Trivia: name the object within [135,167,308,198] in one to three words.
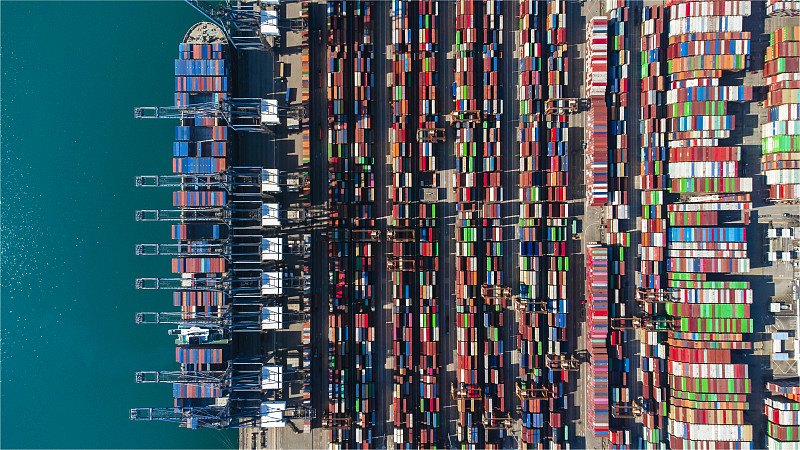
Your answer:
container crane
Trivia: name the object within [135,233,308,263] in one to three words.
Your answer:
container crane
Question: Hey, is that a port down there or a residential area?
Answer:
port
